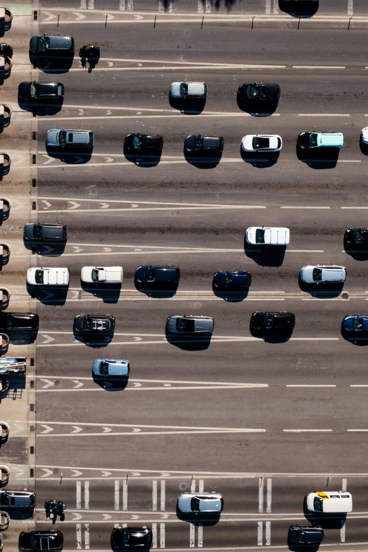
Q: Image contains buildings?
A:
No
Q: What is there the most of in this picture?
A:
paved ground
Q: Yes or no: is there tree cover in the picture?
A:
No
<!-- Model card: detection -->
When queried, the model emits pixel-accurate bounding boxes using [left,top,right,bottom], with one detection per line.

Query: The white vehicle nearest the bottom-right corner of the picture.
[305,491,353,516]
